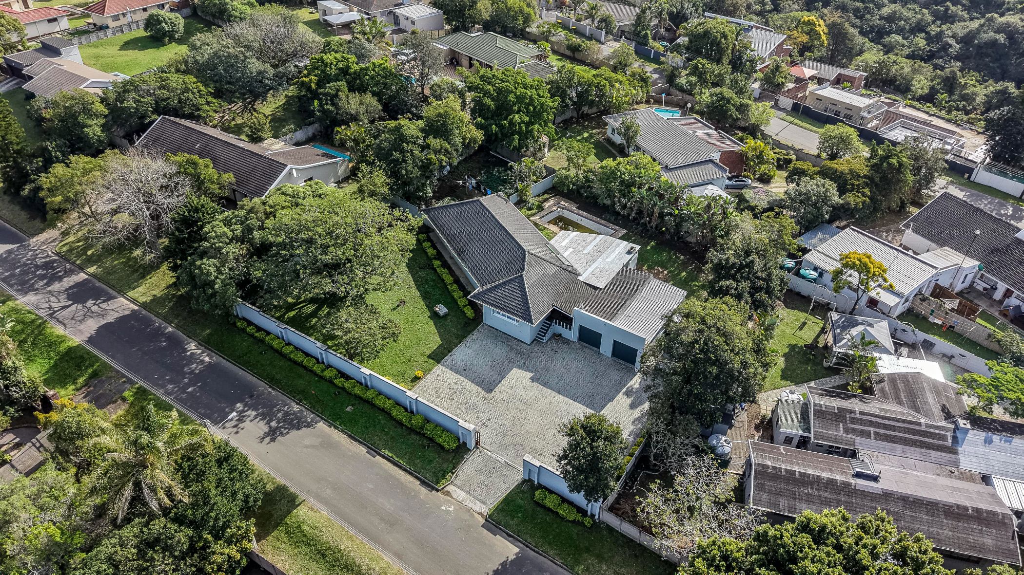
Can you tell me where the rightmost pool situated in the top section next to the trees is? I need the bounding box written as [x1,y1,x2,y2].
[648,105,684,119]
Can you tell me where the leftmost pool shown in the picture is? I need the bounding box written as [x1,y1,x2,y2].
[307,139,356,165]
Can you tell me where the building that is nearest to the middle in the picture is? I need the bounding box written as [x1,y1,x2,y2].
[421,187,686,373]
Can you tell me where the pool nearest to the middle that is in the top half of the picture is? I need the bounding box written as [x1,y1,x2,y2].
[536,194,627,241]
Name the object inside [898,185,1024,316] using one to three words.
house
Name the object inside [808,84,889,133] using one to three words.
house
